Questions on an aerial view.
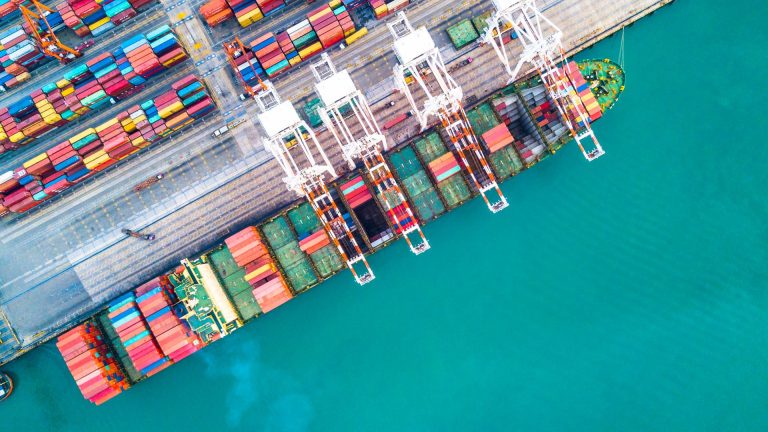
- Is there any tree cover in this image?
No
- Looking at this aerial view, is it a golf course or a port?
port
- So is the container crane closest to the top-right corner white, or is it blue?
white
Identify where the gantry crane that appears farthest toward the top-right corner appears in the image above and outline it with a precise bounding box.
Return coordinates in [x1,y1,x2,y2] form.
[475,0,604,164]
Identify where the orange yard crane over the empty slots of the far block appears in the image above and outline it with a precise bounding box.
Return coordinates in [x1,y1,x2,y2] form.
[16,0,88,63]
